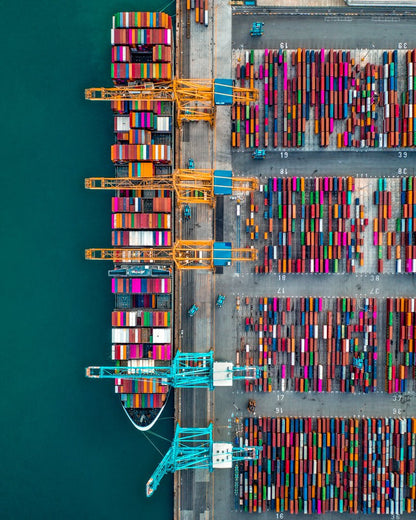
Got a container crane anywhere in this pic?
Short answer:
Yes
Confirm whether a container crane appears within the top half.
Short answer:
Yes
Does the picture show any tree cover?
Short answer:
No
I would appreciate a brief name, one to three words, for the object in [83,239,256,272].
container crane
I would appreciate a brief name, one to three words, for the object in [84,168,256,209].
container crane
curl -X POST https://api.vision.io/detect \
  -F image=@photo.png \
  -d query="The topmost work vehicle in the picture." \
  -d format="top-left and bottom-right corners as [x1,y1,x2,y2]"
[251,24,265,37]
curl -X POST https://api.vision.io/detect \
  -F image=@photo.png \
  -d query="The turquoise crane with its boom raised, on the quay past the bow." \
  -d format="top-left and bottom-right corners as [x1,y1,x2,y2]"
[147,420,263,499]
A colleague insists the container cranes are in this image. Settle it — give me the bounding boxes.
[84,168,256,209]
[84,71,257,129]
[83,239,256,272]
[147,420,263,499]
[83,349,263,392]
